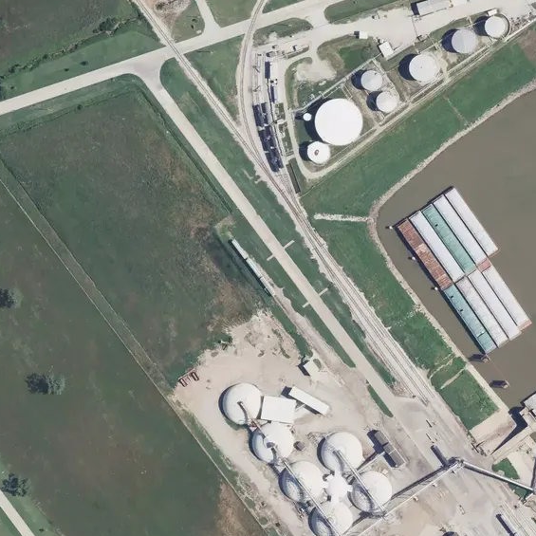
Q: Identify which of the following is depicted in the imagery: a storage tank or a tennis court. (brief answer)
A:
storage tank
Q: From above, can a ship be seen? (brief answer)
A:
Yes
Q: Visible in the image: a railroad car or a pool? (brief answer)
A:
railroad car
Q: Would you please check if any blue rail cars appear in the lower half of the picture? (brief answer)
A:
No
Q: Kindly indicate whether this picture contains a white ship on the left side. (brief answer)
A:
No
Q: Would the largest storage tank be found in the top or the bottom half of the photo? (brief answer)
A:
top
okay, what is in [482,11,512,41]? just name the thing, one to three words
storage tank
